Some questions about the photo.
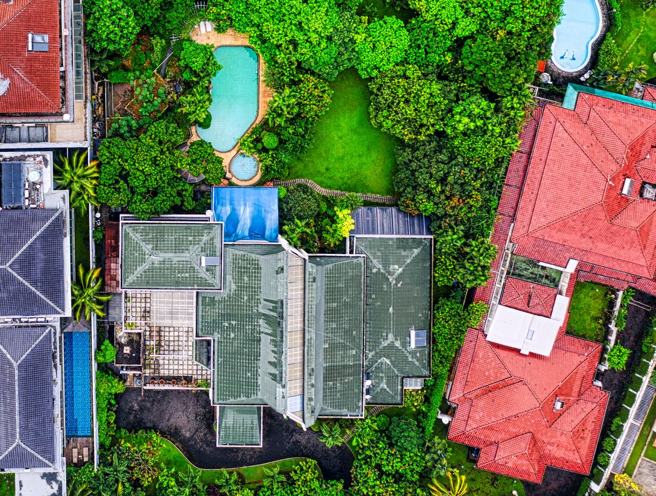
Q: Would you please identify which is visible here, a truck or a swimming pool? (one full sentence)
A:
It is a swimming pool that can be seen here.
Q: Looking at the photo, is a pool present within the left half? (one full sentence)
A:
Yes, a pool shows up within the left half.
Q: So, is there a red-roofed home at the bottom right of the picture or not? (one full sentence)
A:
Yes, a red-roofed home is visible at the bottom right of the picture.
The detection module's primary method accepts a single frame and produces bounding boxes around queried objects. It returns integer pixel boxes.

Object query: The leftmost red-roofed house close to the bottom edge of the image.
[445,327,611,485]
